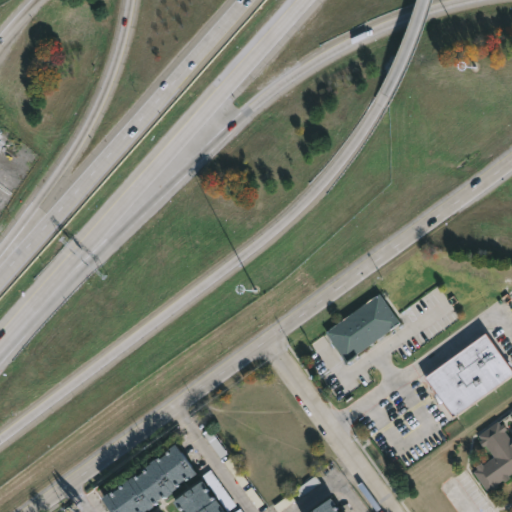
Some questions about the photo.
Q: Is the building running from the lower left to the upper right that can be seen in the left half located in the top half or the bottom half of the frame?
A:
bottom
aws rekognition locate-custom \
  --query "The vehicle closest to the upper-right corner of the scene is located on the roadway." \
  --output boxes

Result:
[350,30,377,45]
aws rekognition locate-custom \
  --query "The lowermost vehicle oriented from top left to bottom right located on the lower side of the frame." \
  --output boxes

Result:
[360,482,388,512]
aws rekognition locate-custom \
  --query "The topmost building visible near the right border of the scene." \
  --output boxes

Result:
[426,334,512,416]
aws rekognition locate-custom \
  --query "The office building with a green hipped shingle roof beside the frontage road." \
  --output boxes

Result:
[326,294,400,364]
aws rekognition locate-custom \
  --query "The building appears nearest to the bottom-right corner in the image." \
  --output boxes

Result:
[474,410,512,492]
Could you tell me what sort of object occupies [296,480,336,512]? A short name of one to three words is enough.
shed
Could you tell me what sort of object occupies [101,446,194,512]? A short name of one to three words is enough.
building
